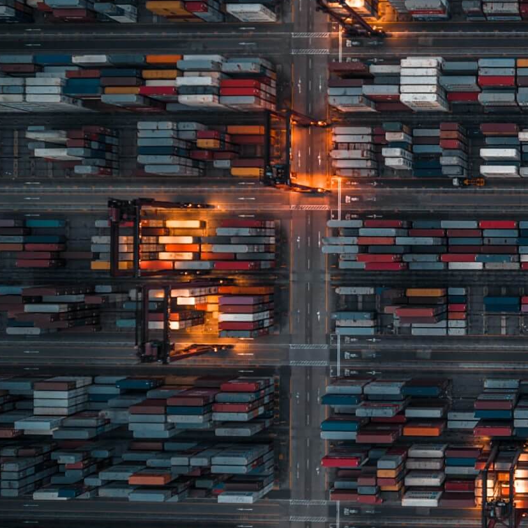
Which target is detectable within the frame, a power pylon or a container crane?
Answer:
container crane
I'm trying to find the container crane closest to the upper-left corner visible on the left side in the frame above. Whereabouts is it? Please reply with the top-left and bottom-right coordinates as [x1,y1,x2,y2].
[110,194,212,281]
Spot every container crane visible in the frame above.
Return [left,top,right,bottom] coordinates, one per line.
[140,277,233,365]
[317,0,384,32]
[110,194,212,281]
[481,439,528,528]
[261,102,336,192]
